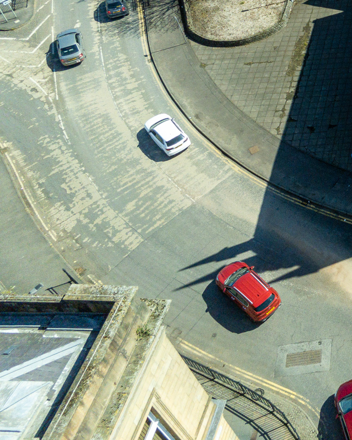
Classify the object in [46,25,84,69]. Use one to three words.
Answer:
car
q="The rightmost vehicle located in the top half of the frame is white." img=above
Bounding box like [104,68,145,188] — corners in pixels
[141,109,190,158]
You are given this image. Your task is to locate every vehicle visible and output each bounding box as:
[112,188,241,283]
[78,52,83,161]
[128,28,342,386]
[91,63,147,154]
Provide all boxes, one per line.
[213,258,284,322]
[46,25,84,69]
[328,375,352,440]
[141,109,190,158]
[101,0,127,19]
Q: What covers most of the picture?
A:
paved ground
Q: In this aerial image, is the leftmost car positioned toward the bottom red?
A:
Yes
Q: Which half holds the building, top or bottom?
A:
bottom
